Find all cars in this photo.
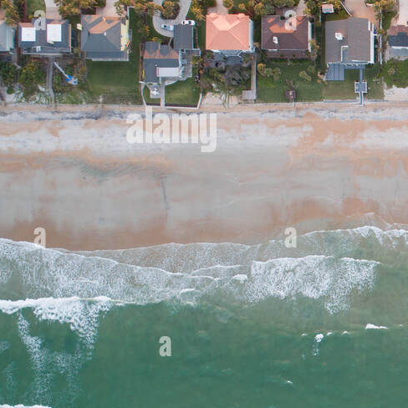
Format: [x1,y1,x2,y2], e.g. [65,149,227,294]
[159,21,172,29]
[182,19,194,24]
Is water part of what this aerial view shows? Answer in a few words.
Yes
